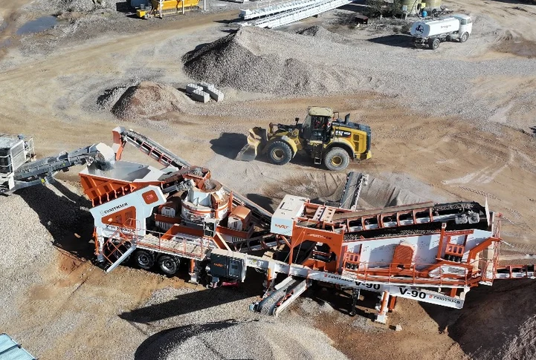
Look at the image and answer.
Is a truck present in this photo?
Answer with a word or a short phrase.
Yes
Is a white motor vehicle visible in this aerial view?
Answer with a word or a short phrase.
Yes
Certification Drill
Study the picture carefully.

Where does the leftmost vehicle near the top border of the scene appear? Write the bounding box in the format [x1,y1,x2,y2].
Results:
[410,9,473,49]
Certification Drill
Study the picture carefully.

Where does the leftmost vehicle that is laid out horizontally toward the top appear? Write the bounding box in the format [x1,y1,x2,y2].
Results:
[233,102,377,170]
